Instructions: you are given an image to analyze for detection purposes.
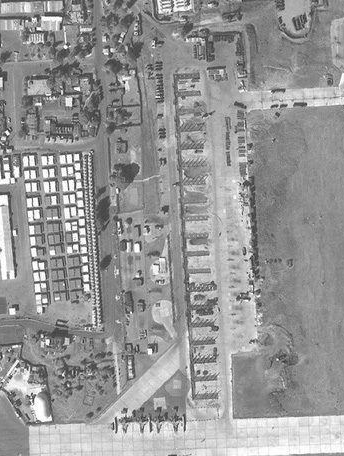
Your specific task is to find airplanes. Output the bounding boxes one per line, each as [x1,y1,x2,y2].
[118,412,133,433]
[151,411,164,430]
[169,411,182,430]
[135,411,148,432]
